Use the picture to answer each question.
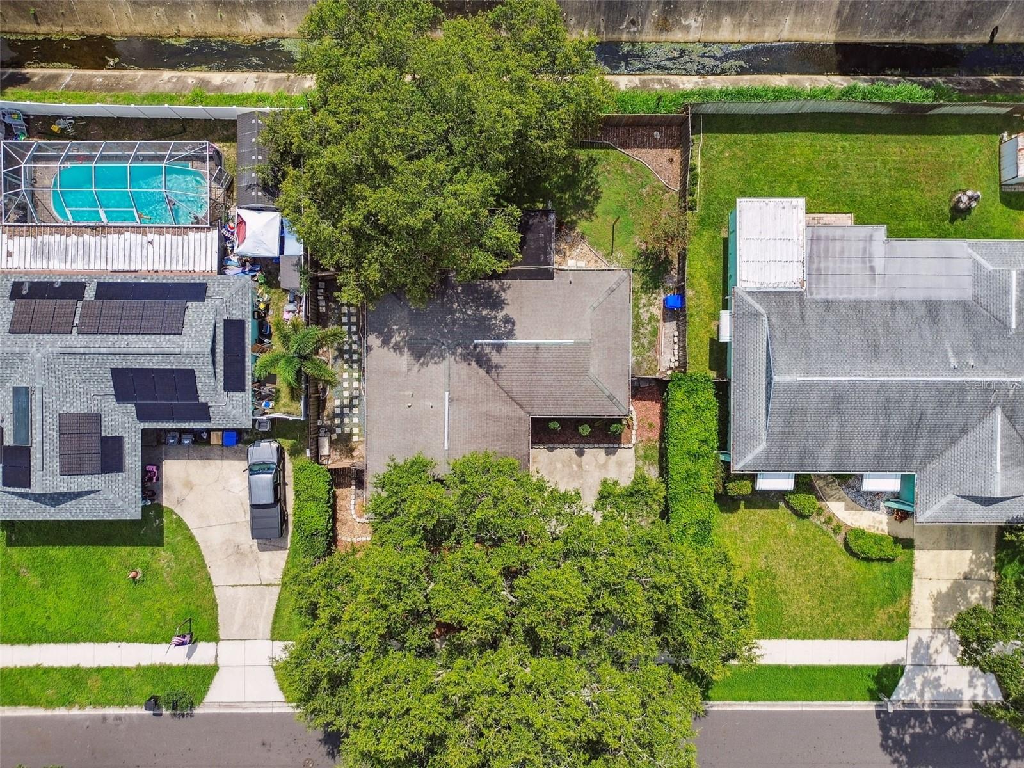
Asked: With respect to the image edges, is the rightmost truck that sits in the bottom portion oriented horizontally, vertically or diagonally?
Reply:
vertically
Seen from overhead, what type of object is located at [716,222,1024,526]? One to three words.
house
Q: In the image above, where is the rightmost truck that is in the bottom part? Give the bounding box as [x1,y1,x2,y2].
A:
[242,437,288,539]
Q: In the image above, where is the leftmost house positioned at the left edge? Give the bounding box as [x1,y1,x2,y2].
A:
[0,274,260,521]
